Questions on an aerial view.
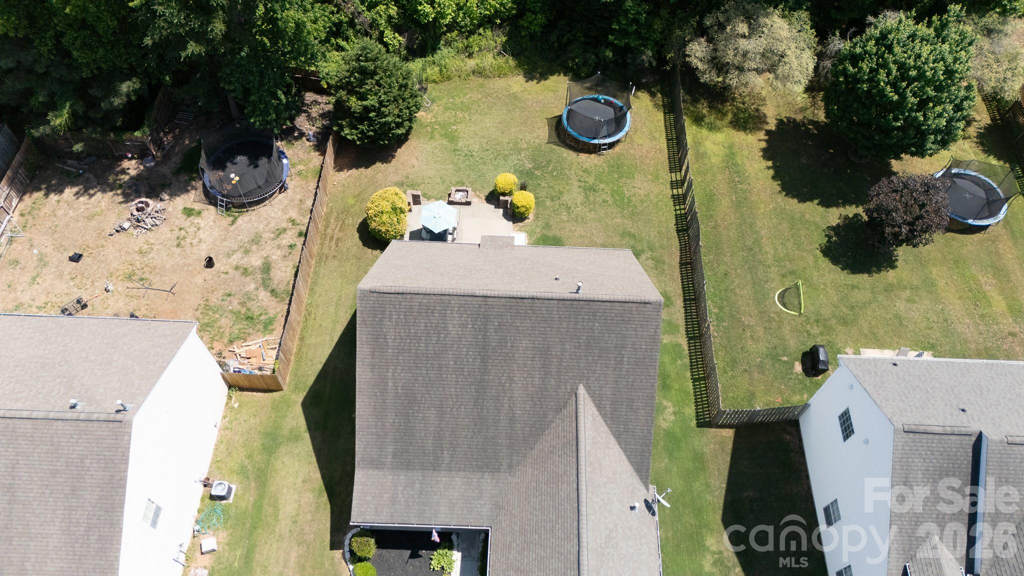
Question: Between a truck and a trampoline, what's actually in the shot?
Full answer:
Visible in the photo is a trampoline.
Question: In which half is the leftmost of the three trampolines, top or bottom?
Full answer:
The leftmost of the three trampolines sits in the top half of the picture.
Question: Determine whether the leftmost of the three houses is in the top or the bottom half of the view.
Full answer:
It is in the bottom half that the leftmost of the three houses appears.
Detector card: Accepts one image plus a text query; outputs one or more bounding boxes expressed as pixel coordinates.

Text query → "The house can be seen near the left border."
[0,314,227,576]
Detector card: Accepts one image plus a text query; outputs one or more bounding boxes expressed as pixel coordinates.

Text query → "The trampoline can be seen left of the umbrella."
[199,123,292,214]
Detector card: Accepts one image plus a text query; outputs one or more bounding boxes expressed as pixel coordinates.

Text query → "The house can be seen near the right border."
[798,355,1024,576]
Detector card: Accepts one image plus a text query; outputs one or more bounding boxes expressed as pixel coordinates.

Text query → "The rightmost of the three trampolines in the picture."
[927,151,1024,239]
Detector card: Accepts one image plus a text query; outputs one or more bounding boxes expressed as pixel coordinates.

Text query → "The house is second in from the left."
[347,233,666,576]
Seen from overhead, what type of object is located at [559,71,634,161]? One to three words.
trampoline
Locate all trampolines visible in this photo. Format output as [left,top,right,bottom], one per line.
[927,151,1024,239]
[559,71,634,161]
[199,123,292,214]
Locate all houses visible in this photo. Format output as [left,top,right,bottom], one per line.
[798,355,1024,576]
[0,314,227,576]
[347,233,666,576]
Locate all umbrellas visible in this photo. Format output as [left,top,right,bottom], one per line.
[420,201,457,234]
